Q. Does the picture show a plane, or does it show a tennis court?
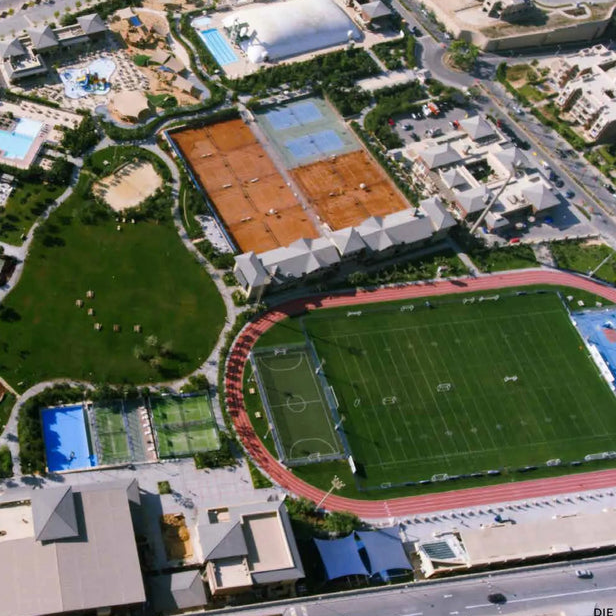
tennis court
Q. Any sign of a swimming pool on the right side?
No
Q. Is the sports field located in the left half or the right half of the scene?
right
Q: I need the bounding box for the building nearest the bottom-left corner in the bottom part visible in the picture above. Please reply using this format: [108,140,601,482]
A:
[0,480,146,616]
